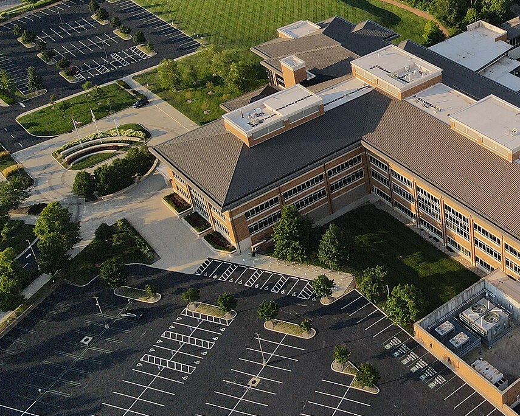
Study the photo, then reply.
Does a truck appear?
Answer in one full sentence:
No, the photo shows no truck.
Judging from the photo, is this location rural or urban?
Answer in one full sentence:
The area is urban.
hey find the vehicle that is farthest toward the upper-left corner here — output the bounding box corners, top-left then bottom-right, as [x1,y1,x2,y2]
[132,93,149,106]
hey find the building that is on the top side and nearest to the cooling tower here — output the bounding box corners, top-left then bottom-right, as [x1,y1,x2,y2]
[147,14,520,303]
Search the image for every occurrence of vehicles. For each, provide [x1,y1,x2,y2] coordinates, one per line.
[132,93,149,106]
[117,305,145,321]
